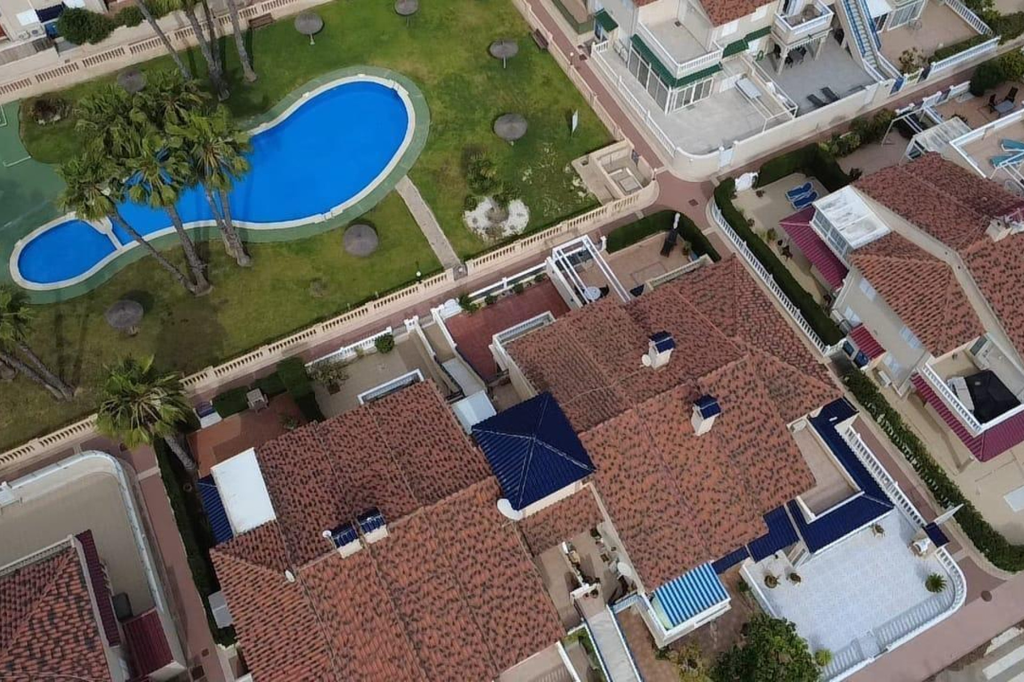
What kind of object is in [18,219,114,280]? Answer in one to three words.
swimming pool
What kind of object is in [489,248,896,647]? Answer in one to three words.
house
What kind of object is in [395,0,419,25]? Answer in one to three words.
umbrella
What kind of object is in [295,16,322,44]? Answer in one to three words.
umbrella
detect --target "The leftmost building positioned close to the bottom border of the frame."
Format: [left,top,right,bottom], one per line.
[0,523,187,682]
